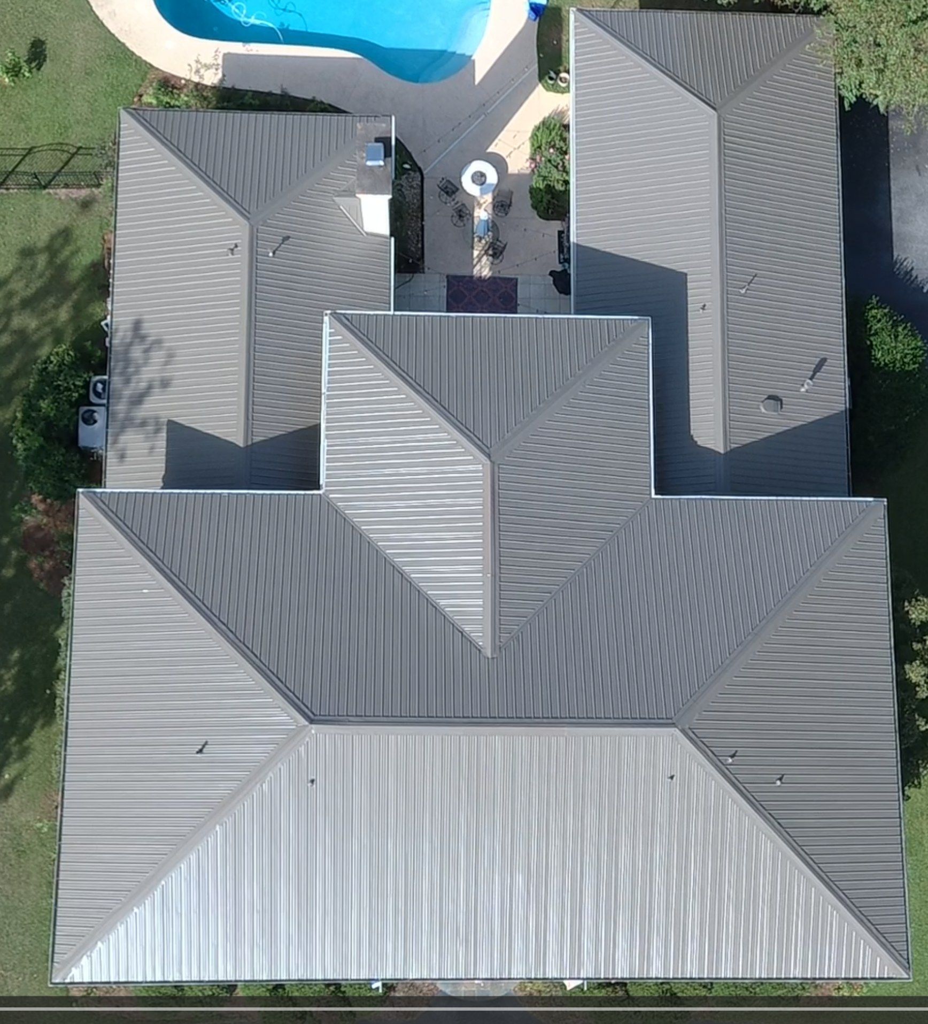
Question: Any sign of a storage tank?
No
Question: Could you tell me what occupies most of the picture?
buildings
